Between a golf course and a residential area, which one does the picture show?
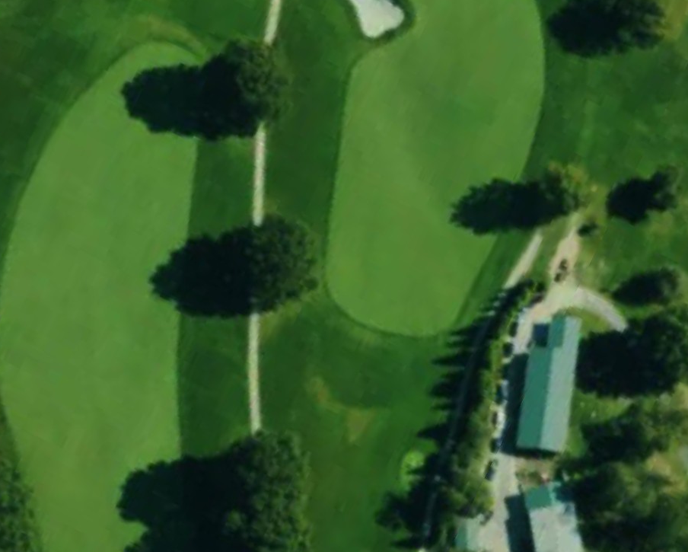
golf course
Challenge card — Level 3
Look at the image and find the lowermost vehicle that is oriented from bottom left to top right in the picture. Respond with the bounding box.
[479,510,494,525]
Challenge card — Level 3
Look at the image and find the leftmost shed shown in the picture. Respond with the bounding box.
[453,520,482,552]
